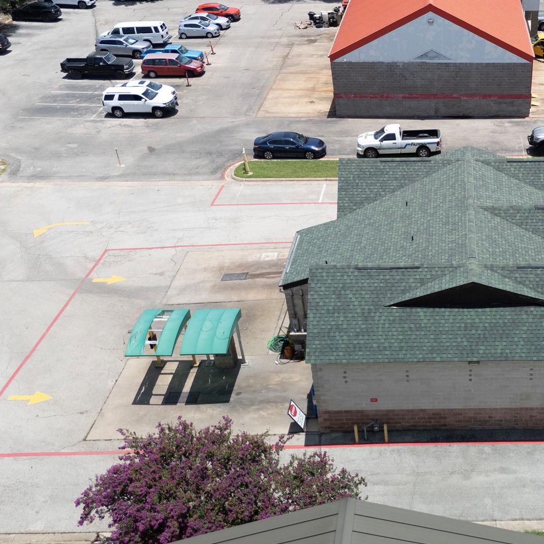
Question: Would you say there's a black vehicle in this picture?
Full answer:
Yes, looking at the shot, I can spot a black vehicle.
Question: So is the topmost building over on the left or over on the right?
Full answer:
You can find the topmost building on the right side of the picture.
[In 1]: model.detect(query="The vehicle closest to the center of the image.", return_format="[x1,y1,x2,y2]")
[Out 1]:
[249,129,327,158]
